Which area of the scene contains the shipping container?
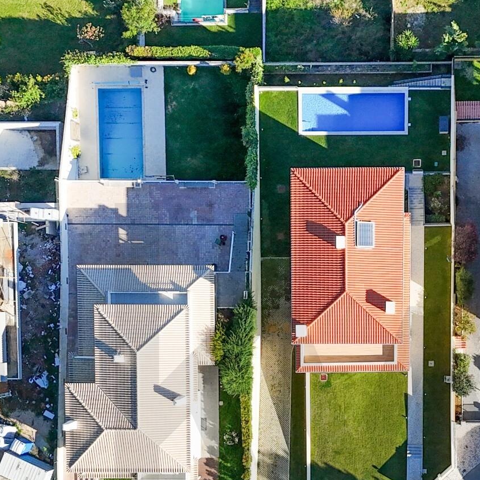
bottom left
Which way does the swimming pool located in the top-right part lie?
horizontally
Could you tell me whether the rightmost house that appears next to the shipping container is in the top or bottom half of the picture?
bottom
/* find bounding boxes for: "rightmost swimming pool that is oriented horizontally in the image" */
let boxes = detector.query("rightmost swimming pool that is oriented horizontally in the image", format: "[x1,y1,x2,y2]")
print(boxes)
[298,88,412,134]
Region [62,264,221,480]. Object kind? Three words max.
house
